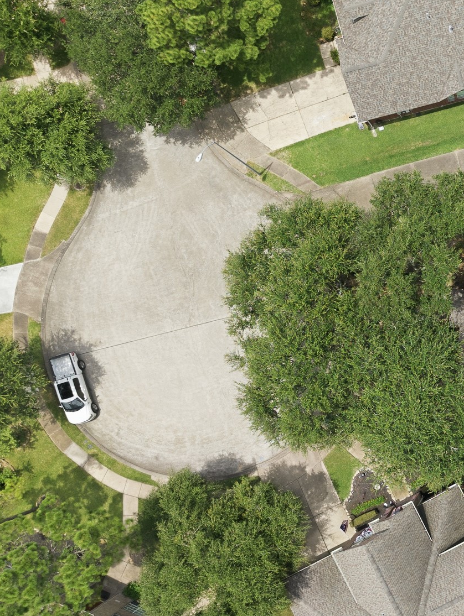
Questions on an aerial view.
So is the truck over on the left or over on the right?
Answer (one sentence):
The truck appears in the left half of the scene.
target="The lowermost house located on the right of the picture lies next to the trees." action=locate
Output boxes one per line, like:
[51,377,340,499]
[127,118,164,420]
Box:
[283,481,464,616]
